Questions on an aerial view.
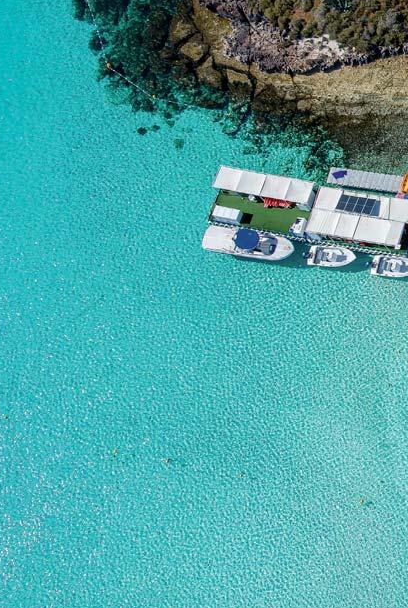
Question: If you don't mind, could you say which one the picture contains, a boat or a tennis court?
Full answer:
Of the two, only a boat appears.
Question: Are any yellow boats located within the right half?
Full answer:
No, the scene shows no yellow boat within the right half.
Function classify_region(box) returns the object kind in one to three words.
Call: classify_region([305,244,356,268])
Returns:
boat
